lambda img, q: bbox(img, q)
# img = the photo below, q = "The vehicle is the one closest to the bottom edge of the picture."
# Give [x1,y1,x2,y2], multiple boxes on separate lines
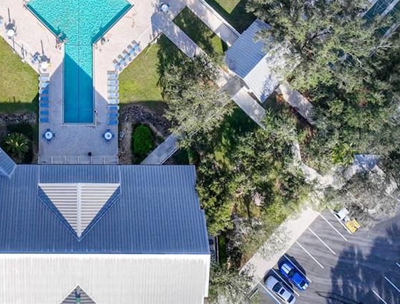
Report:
[265,273,297,304]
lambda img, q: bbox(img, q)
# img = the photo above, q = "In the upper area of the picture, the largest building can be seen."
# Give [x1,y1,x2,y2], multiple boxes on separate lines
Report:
[223,18,295,102]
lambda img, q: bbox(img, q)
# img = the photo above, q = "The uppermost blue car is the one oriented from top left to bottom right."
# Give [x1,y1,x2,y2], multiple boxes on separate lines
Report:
[280,256,310,288]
